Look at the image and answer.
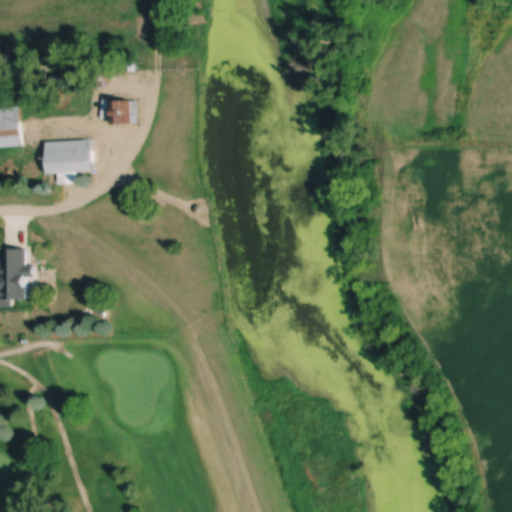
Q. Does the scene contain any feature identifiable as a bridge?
No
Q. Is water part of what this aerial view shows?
Yes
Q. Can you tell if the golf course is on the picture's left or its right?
left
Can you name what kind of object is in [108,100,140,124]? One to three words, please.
barn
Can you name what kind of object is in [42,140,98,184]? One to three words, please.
house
